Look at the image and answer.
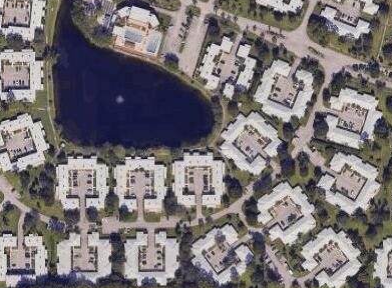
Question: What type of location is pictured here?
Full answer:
The area seen from above is a residential area.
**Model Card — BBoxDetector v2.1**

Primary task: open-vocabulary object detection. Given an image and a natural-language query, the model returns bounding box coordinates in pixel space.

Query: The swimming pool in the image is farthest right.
[146,30,160,54]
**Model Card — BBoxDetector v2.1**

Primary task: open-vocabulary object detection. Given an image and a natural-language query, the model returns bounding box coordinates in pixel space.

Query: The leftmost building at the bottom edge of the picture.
[0,232,48,287]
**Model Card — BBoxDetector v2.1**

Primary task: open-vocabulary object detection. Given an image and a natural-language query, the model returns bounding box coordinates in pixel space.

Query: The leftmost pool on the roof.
[124,26,145,42]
